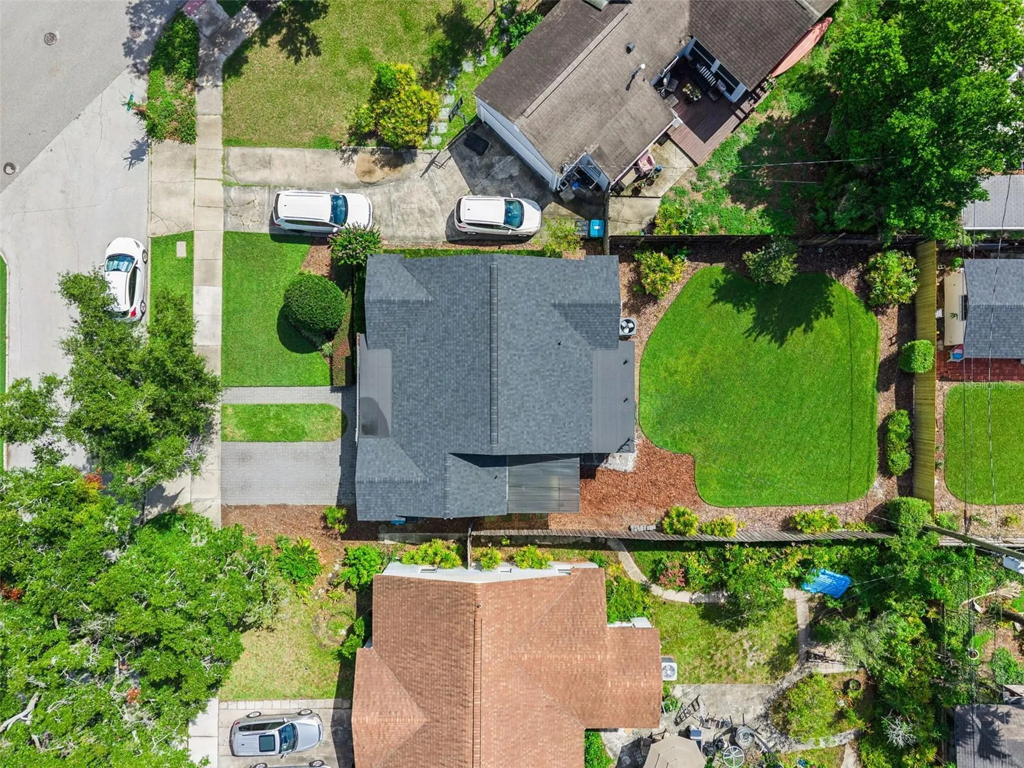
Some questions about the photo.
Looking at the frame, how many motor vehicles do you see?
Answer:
4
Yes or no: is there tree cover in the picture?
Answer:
Yes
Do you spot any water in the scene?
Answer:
No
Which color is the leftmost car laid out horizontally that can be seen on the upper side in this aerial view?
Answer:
white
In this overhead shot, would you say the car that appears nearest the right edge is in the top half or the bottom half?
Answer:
top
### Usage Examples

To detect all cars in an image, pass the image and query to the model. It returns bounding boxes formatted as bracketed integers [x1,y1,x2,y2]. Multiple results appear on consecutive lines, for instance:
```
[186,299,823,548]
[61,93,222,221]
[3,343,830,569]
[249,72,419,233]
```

[275,186,375,232]
[230,712,324,763]
[454,191,541,237]
[98,238,148,322]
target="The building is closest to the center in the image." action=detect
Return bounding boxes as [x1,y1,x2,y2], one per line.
[352,255,635,521]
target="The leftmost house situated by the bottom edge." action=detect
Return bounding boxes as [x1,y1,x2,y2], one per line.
[347,563,664,768]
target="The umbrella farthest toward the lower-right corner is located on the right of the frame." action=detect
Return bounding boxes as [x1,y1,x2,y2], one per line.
[641,732,707,768]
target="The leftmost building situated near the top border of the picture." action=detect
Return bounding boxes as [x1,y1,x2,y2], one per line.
[476,0,837,192]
